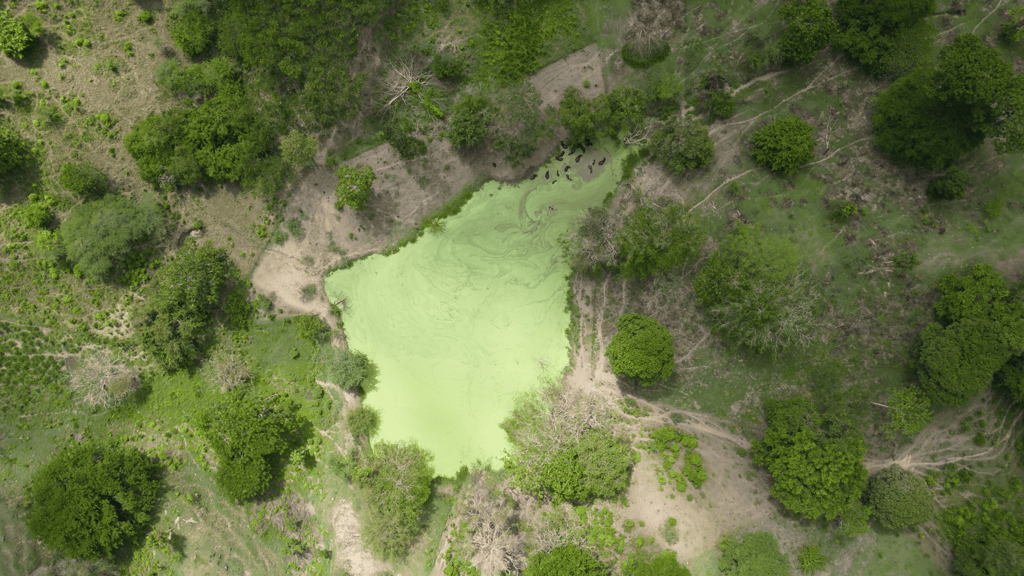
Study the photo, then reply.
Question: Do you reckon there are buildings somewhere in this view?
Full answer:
No, this view has no building in it.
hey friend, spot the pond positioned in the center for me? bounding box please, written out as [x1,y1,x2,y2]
[325,116,654,479]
